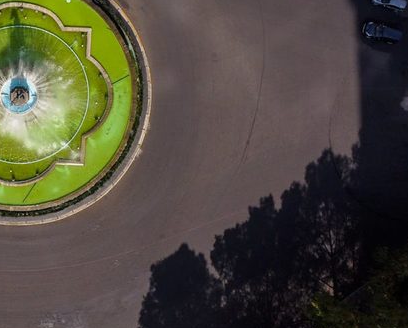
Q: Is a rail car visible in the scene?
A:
No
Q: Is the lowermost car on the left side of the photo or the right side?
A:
right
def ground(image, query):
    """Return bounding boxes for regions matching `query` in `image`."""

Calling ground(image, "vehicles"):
[360,20,403,42]
[367,0,408,12]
